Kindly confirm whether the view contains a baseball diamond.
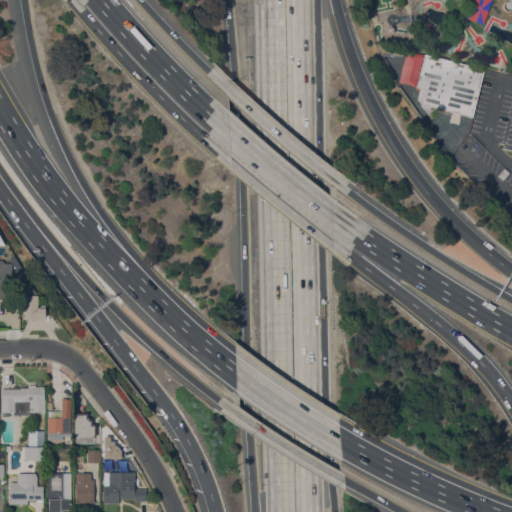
No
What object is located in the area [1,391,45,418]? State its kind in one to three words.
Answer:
house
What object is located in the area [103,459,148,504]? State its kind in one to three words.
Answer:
house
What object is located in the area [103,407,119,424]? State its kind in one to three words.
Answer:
camper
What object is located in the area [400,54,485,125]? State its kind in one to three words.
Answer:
building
